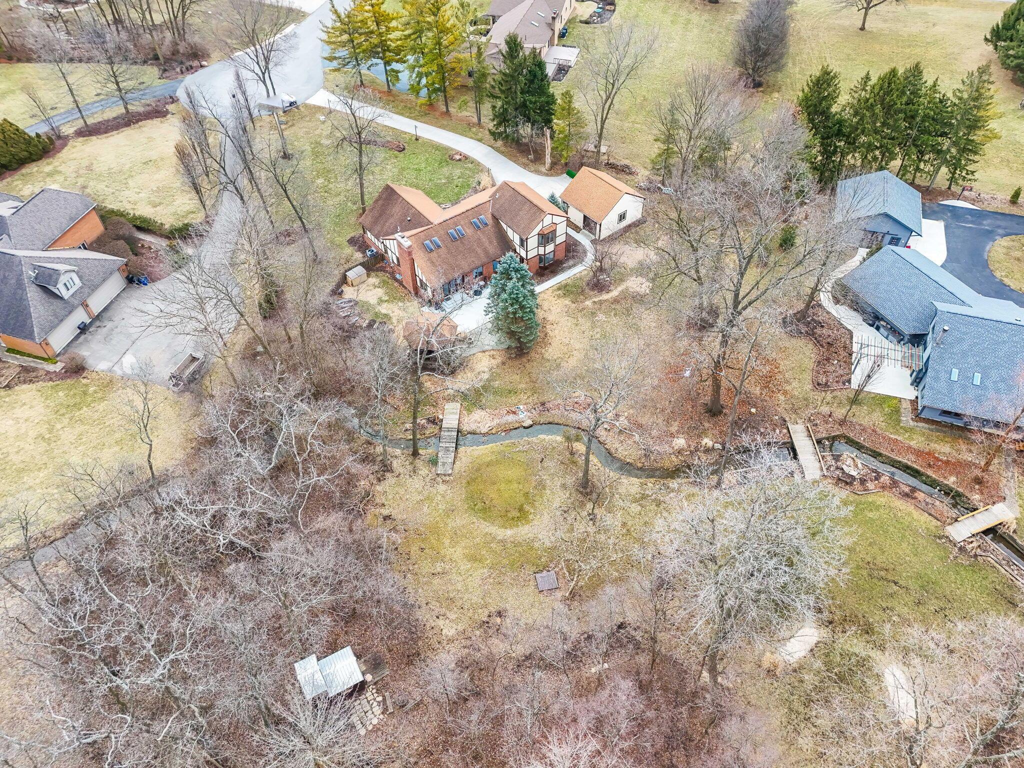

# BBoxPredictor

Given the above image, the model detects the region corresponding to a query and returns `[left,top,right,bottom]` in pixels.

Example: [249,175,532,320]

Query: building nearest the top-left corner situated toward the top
[0,192,128,355]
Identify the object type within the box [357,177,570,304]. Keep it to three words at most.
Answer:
house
